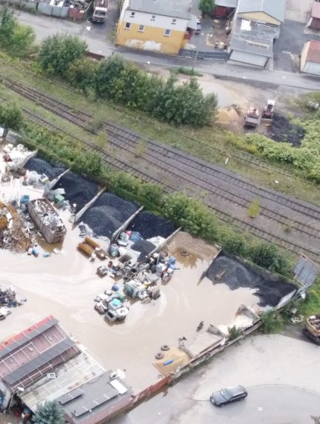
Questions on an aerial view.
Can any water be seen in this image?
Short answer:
Yes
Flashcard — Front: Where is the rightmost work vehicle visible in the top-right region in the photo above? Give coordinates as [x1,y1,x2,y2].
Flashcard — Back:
[260,97,277,121]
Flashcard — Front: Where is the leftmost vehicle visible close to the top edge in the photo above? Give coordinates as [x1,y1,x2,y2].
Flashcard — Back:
[92,0,107,21]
